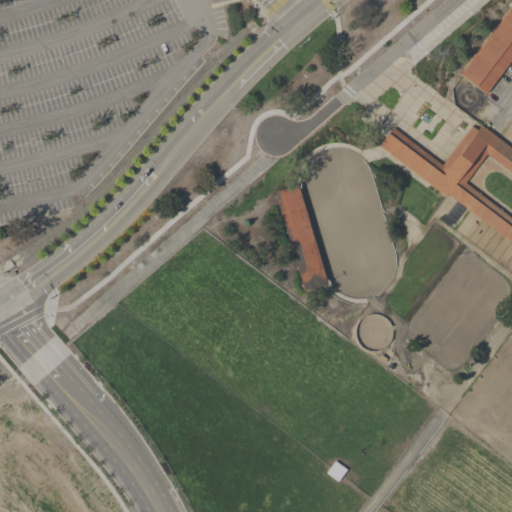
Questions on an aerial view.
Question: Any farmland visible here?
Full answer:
Yes, some farmland is visible.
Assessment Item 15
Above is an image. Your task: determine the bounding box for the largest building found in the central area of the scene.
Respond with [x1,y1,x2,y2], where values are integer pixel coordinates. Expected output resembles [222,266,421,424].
[280,188,328,291]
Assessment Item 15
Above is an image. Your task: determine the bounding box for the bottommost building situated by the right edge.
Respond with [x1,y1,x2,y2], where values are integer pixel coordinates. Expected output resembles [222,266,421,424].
[384,126,512,240]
